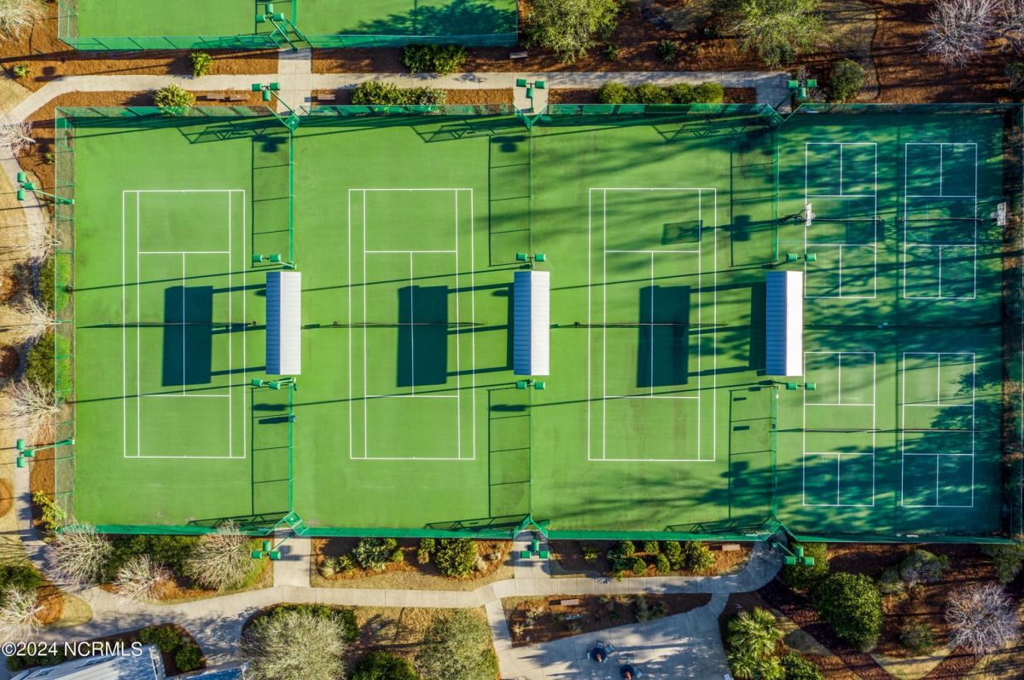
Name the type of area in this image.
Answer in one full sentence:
This image shows a sports ground.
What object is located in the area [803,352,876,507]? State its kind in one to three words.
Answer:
sports court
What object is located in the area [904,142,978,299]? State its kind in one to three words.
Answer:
sports court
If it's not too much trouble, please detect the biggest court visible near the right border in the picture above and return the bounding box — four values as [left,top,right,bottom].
[773,110,1005,538]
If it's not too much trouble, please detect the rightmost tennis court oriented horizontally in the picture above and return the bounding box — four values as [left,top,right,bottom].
[295,0,518,49]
